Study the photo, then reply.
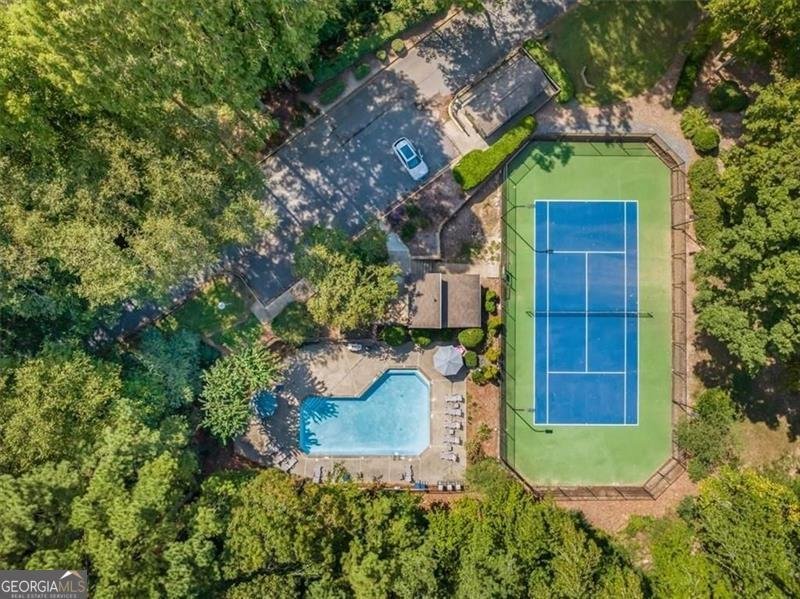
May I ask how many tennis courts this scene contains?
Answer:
1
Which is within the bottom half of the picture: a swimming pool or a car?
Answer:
swimming pool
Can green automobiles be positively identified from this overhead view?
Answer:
No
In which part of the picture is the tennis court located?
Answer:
right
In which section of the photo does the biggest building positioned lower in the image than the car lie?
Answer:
center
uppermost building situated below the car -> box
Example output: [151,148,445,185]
[412,274,482,329]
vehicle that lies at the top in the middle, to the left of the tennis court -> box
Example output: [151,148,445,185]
[392,137,427,182]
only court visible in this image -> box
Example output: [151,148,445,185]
[502,141,671,487]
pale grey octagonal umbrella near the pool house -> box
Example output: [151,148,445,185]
[434,344,462,374]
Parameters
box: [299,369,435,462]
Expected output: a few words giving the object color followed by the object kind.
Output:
blue swimming pool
